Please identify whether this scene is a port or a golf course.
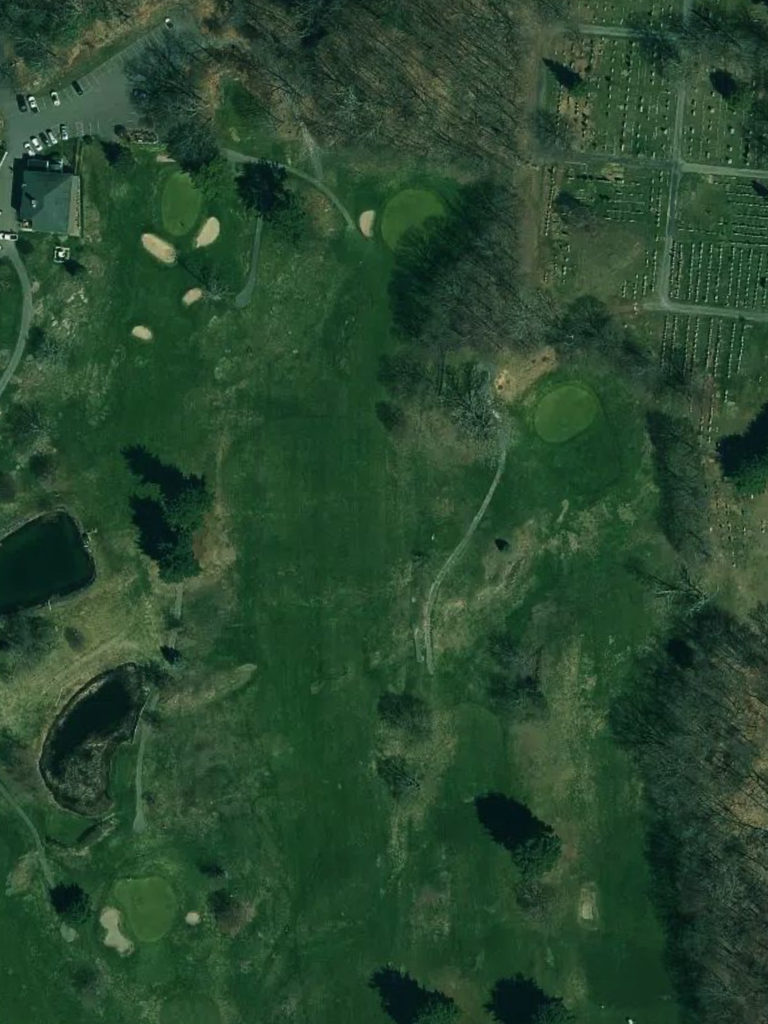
golf course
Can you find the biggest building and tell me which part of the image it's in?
top left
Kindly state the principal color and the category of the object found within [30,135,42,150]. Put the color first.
white vehicle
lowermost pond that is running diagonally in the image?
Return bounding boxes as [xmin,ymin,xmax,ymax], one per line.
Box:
[46,672,136,778]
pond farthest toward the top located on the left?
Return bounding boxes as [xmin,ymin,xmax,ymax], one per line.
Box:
[0,514,93,612]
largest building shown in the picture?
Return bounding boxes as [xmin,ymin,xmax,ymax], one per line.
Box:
[19,168,81,233]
